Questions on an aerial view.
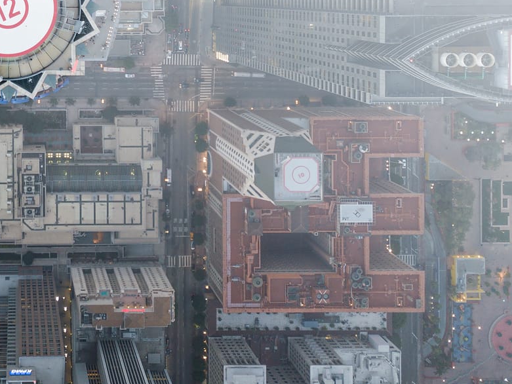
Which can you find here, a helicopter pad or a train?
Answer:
helicopter pad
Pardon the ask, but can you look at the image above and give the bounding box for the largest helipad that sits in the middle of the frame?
[284,158,318,191]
